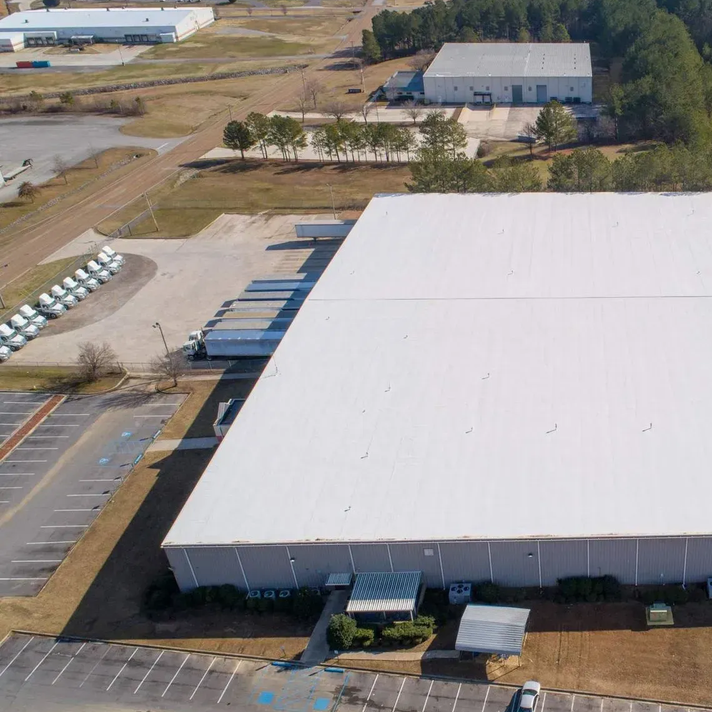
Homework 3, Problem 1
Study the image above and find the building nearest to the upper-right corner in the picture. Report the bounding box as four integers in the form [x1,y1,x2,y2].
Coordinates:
[422,43,594,103]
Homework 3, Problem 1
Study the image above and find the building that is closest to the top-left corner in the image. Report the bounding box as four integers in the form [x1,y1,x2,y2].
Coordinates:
[0,6,212,48]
